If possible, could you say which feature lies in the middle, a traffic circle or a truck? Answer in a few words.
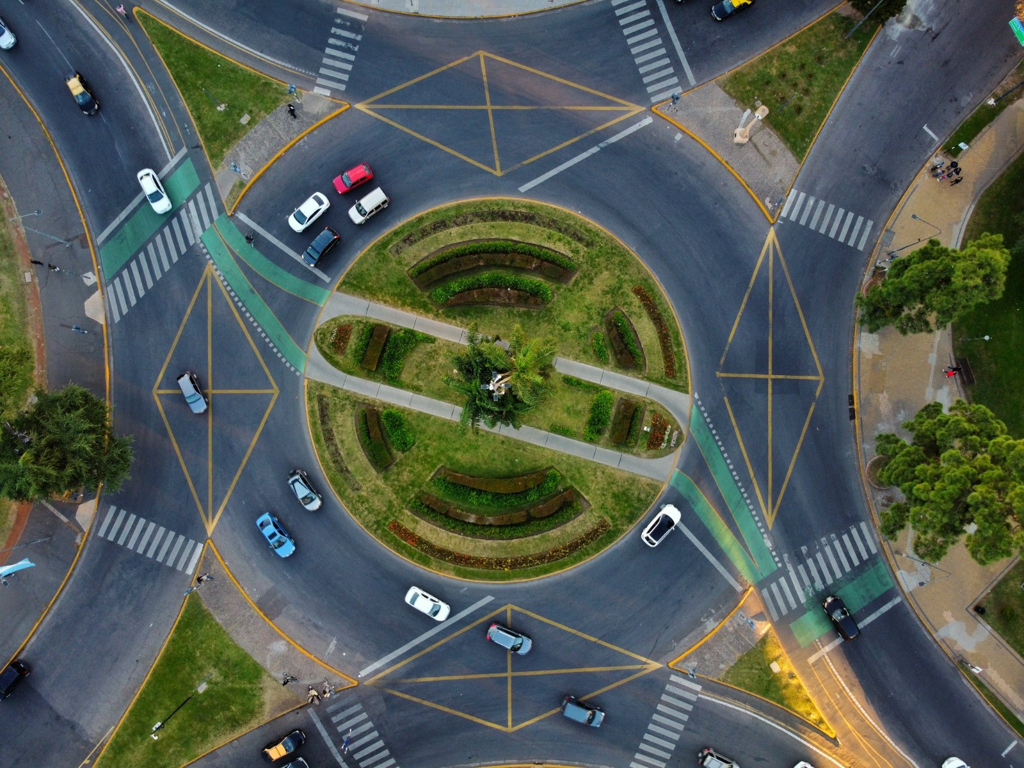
traffic circle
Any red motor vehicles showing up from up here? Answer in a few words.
Yes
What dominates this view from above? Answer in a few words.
paved ground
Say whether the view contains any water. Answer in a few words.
No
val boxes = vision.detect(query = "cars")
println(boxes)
[135,165,175,216]
[330,161,376,196]
[710,0,759,25]
[0,8,21,51]
[641,502,681,551]
[301,223,342,269]
[940,750,968,768]
[484,621,532,655]
[560,694,604,727]
[347,184,392,224]
[273,752,314,768]
[65,69,104,119]
[284,467,324,512]
[287,189,332,235]
[261,725,311,764]
[255,510,296,558]
[0,659,31,701]
[402,585,451,621]
[698,742,745,768]
[174,368,211,415]
[820,592,861,645]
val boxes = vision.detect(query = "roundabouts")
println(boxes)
[303,195,692,584]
